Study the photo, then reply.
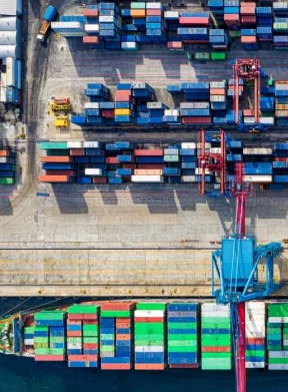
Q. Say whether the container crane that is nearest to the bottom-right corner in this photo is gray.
No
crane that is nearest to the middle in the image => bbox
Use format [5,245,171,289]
[198,130,238,199]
